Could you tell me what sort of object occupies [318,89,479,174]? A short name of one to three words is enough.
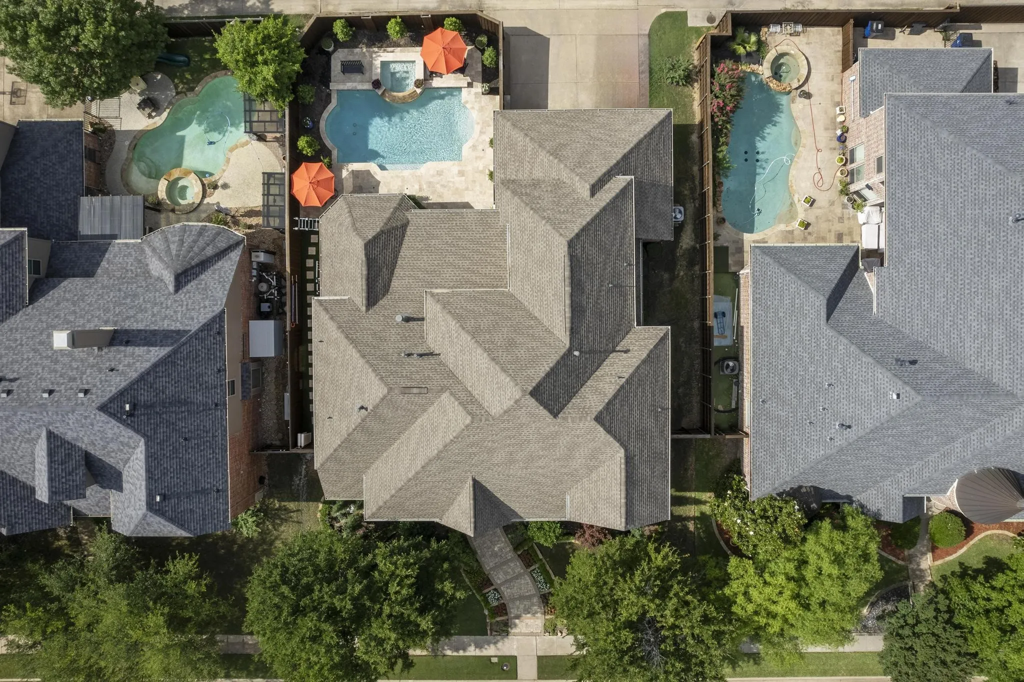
swimming pool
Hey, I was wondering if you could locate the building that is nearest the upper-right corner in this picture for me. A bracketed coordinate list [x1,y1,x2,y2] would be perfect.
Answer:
[741,46,1024,527]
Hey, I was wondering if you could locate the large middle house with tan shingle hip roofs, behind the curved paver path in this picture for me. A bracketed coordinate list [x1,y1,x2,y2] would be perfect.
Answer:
[310,106,676,537]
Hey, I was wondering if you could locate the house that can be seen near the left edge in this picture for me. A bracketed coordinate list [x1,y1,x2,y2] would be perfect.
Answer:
[0,118,272,538]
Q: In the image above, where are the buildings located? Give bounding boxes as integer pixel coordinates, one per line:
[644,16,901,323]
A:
[0,118,272,538]
[741,46,1024,527]
[310,106,676,537]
